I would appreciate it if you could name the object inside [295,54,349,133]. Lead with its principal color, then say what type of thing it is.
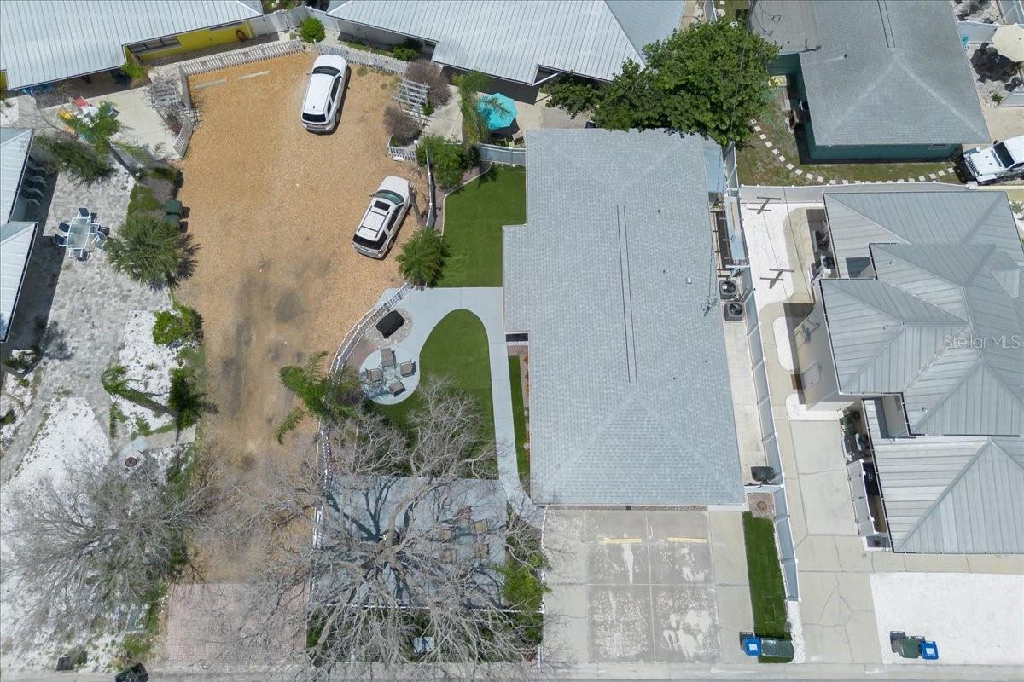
white car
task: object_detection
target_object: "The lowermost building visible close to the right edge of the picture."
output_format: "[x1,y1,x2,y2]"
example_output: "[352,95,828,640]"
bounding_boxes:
[796,189,1024,557]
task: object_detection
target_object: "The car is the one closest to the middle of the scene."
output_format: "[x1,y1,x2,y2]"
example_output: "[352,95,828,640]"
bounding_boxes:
[349,176,412,258]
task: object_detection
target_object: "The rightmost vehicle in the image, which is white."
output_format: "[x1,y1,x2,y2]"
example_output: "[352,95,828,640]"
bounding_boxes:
[957,127,1024,183]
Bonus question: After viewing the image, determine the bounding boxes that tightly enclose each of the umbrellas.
[988,22,1024,79]
[472,95,523,147]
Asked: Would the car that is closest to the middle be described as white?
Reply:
Yes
